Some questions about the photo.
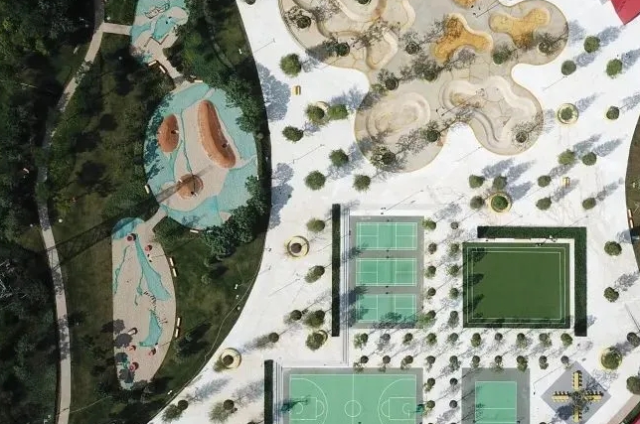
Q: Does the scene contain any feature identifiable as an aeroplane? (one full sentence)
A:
No, there's no aeroplane here.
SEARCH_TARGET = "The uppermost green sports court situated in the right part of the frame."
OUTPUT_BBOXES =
[356,219,417,252]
